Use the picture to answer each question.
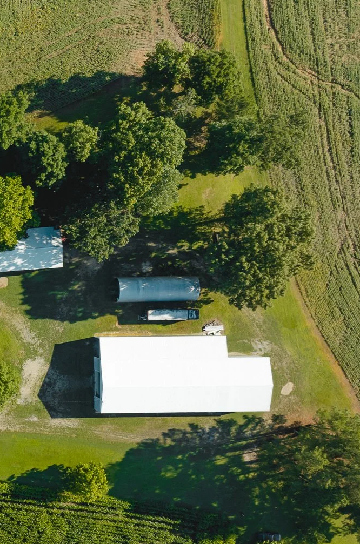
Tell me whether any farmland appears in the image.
Yes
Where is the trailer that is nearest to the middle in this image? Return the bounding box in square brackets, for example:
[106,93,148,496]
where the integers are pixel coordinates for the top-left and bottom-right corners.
[136,308,199,321]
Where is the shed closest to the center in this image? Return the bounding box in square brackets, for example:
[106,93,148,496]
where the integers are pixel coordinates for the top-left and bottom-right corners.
[115,276,205,302]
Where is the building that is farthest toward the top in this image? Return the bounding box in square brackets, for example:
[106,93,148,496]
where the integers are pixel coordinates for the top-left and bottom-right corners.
[0,227,64,271]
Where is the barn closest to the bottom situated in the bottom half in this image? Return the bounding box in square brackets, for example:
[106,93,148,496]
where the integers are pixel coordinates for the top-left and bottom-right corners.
[92,336,277,413]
